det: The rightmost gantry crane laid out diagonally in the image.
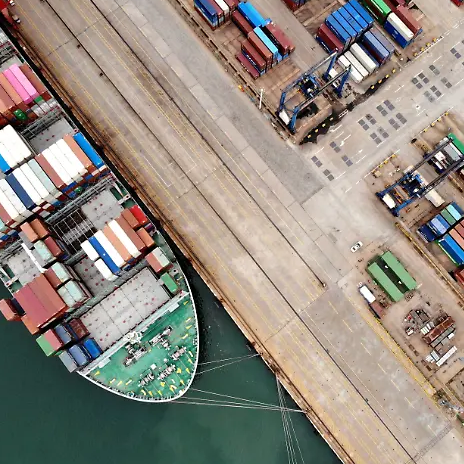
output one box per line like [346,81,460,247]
[376,138,464,217]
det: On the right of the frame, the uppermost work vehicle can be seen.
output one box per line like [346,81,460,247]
[409,139,428,155]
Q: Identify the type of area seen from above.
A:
port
